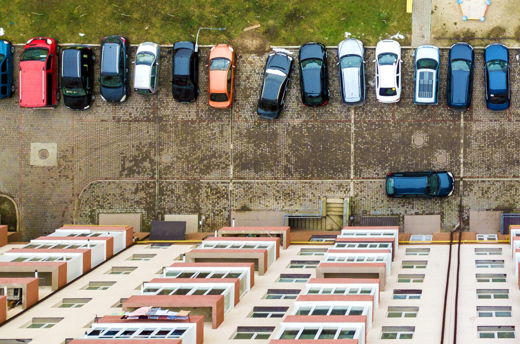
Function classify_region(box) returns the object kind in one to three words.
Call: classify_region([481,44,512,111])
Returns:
car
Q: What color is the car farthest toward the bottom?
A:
blue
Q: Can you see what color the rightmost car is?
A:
blue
